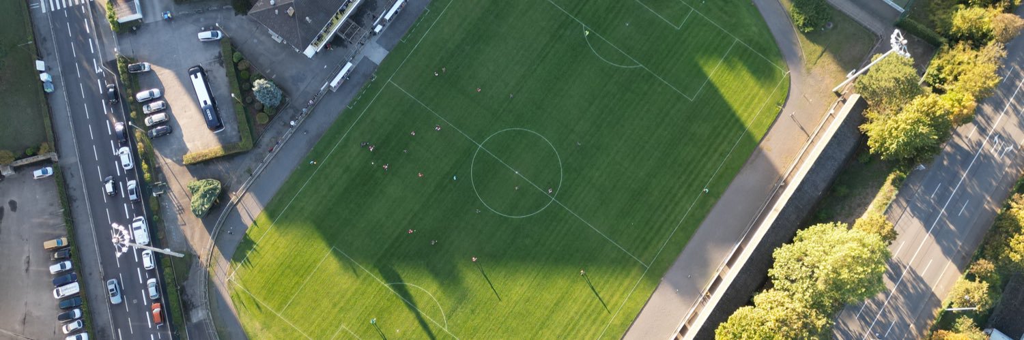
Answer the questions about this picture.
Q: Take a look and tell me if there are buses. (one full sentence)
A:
Yes, the photo shows a bus.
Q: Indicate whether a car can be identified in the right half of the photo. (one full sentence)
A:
No, the scene shows no car in the right half of the photo.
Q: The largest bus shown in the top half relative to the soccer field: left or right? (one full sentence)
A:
From the viewer's perspective, the largest bus shown in the top half falls to the left of the soccer field.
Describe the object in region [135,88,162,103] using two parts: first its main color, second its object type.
white car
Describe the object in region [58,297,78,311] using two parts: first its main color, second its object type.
blue car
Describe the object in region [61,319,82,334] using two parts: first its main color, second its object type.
white car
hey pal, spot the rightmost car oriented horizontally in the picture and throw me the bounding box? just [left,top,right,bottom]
[197,29,223,42]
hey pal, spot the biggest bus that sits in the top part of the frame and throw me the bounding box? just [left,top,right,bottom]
[185,61,228,132]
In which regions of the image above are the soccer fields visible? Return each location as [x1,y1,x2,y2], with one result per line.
[230,0,791,340]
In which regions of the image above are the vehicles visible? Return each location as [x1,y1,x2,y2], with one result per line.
[147,123,173,138]
[127,61,151,73]
[142,99,167,115]
[185,61,228,132]
[144,110,170,126]
[50,247,69,261]
[113,121,128,143]
[102,175,118,197]
[129,216,152,245]
[64,330,84,340]
[145,277,161,301]
[53,281,79,299]
[56,308,80,324]
[125,178,141,203]
[61,319,82,334]
[118,146,135,171]
[42,236,67,250]
[140,249,156,272]
[51,273,74,288]
[48,260,72,275]
[32,166,53,180]
[58,297,78,311]
[106,278,122,305]
[197,29,223,42]
[135,88,162,103]
[149,302,165,326]
[105,83,120,105]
